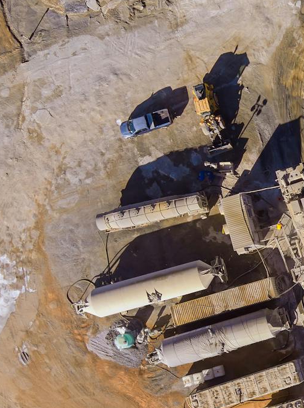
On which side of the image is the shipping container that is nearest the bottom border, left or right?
right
